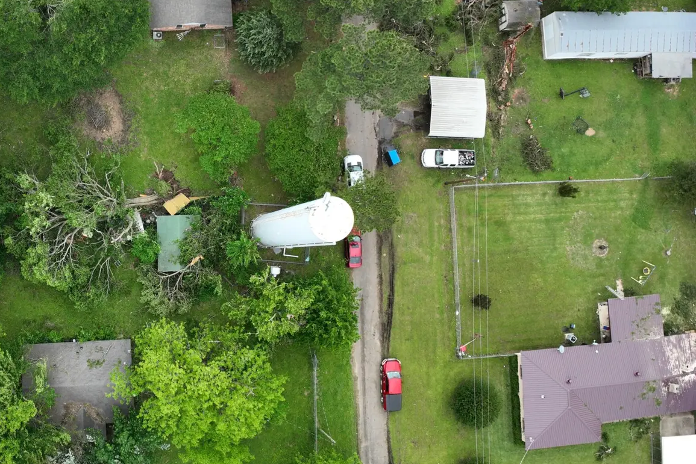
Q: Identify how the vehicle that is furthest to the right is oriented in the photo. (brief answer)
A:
horizontally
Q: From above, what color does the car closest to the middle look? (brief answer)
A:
red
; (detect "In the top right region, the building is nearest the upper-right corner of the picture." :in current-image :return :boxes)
[542,6,696,84]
